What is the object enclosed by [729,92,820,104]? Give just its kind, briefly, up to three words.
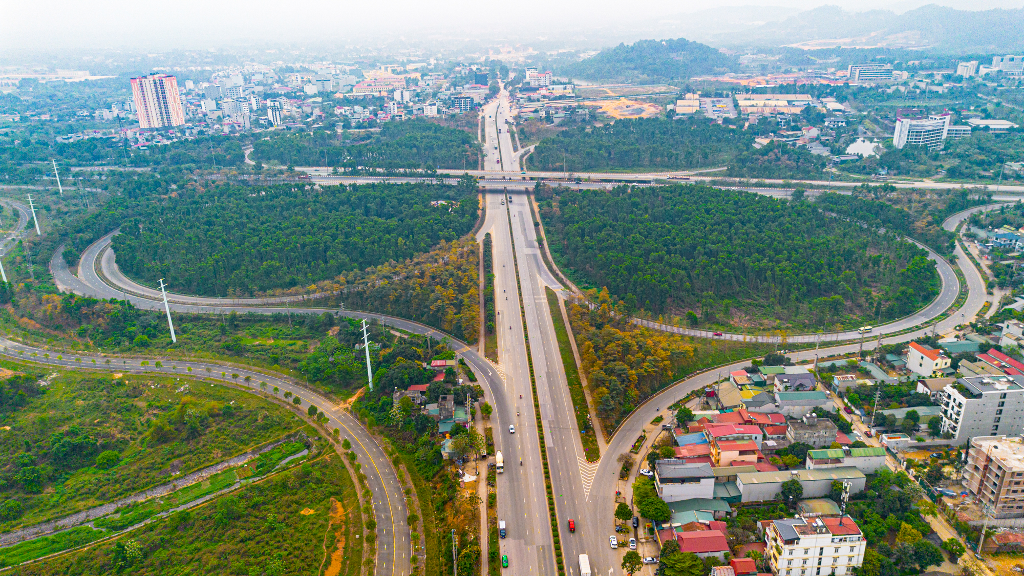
building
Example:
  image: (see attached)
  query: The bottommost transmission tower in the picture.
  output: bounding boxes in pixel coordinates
[360,319,375,392]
